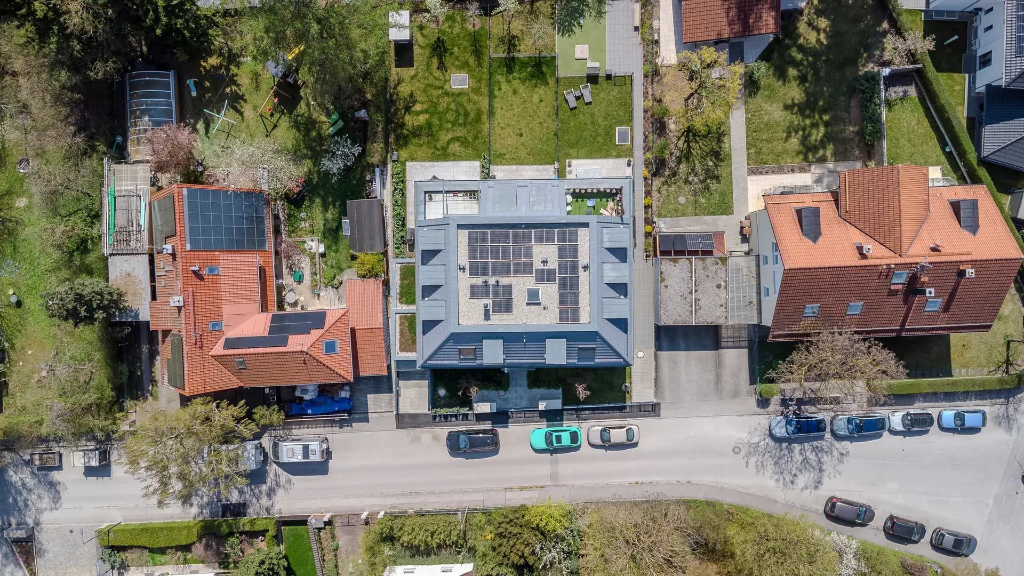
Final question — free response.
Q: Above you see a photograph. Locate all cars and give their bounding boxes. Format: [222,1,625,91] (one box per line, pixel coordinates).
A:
[768,414,826,440]
[446,427,499,454]
[886,409,934,433]
[927,525,977,557]
[880,512,926,544]
[587,423,639,447]
[936,408,986,431]
[530,425,582,451]
[821,493,874,525]
[829,413,887,438]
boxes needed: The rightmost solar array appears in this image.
[660,233,714,249]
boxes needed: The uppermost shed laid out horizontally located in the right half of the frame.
[680,0,781,49]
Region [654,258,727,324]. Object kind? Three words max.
building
